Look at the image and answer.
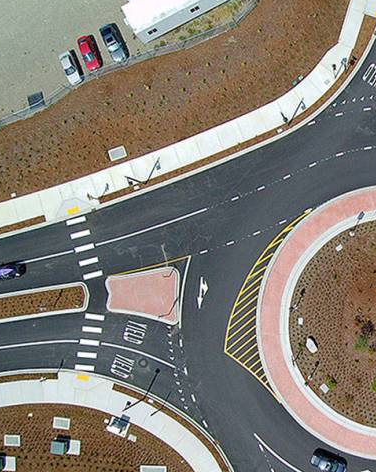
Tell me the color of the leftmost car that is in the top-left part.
white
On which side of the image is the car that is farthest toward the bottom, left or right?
right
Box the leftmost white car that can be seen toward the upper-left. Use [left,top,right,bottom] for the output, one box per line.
[59,48,83,86]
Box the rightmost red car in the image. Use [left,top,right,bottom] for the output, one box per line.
[76,34,102,72]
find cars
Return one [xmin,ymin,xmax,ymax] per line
[310,452,347,472]
[0,262,23,280]
[76,34,102,72]
[59,48,83,86]
[100,23,128,63]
